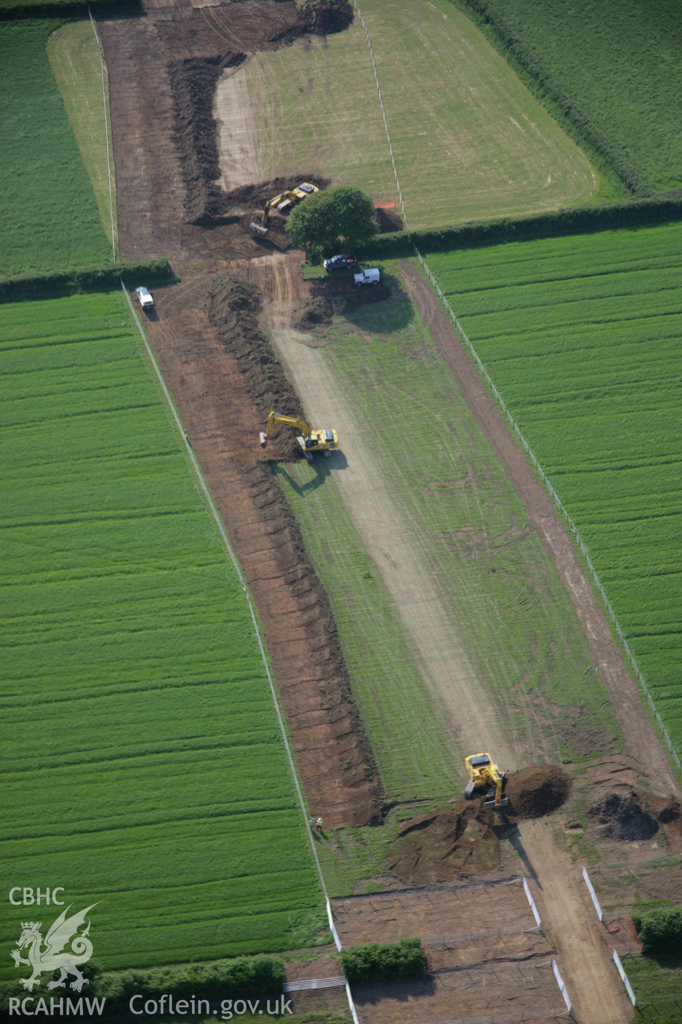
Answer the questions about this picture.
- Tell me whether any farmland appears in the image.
Yes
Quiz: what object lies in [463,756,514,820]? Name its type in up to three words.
work vehicle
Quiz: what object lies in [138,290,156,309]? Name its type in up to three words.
vehicle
